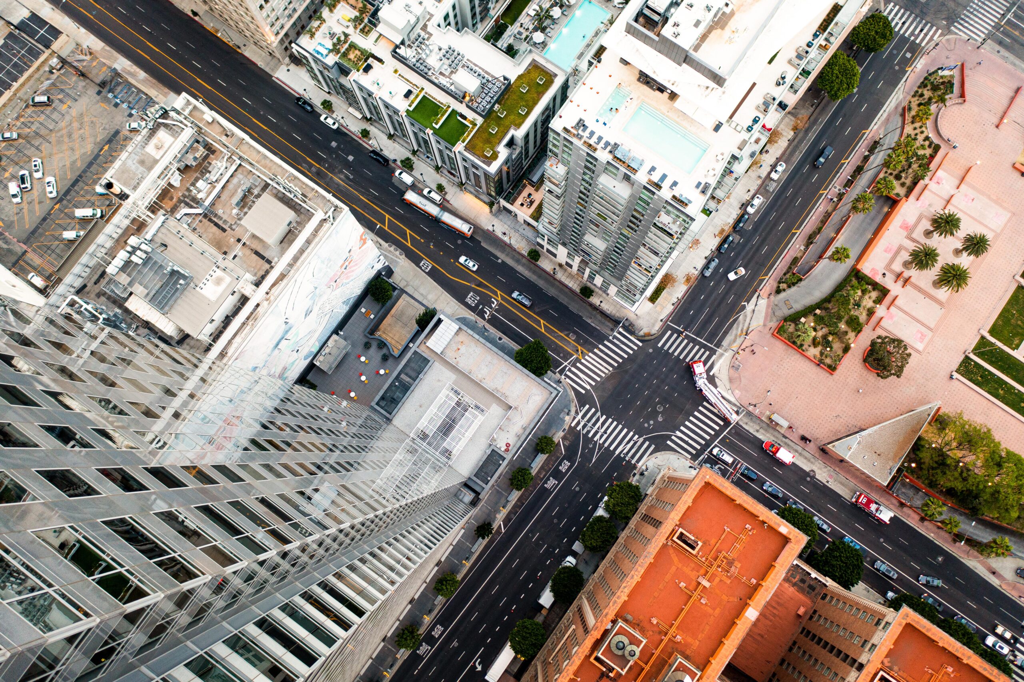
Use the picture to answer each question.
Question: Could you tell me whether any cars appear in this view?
Yes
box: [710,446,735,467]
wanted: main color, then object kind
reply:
white car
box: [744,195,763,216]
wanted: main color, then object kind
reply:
white car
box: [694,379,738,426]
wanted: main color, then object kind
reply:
white trailer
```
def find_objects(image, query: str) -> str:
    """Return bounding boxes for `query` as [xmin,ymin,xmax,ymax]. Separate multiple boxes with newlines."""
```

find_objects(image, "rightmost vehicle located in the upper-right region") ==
[814,145,834,168]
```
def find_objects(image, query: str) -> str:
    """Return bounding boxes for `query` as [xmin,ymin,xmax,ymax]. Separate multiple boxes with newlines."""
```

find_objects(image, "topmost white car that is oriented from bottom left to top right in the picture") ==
[768,162,787,182]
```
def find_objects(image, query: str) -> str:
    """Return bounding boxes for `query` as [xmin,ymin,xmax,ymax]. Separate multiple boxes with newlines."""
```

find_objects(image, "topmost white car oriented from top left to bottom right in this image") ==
[319,114,340,131]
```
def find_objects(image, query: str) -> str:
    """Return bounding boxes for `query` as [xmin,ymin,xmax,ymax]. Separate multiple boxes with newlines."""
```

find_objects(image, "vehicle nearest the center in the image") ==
[511,290,533,309]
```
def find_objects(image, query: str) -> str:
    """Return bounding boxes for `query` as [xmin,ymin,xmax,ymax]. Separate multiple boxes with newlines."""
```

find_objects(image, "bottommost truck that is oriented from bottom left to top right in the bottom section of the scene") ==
[487,641,516,682]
